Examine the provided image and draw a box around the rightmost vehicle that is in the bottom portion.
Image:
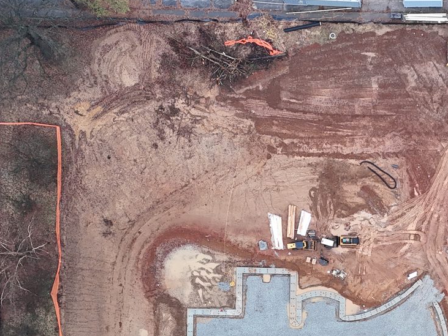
[335,234,357,247]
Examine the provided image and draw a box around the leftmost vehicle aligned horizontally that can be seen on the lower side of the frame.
[289,239,318,252]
